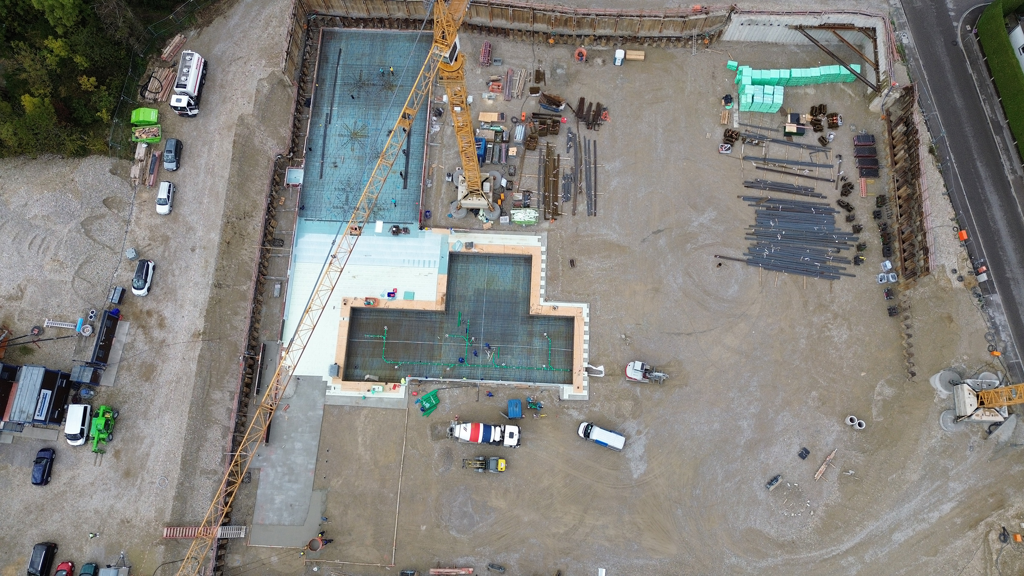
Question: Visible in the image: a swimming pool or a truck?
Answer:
truck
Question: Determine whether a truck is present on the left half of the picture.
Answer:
Yes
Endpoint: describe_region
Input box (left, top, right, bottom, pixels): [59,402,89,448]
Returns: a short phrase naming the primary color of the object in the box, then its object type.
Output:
white van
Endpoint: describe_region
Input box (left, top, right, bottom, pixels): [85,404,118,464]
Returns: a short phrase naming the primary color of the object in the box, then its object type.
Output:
green work vehicle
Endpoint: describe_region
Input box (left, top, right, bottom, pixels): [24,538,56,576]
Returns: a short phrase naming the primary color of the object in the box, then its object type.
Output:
black van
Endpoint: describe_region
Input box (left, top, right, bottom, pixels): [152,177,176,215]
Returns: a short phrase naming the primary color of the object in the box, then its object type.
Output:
white car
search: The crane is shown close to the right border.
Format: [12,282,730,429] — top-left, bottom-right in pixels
[952,379,1024,423]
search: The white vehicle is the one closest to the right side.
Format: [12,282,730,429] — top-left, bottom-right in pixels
[625,361,678,388]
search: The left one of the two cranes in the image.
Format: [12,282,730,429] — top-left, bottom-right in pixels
[174,0,494,576]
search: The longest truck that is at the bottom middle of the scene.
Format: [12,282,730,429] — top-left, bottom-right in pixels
[445,423,528,451]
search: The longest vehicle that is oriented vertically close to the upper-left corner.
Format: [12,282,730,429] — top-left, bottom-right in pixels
[162,40,203,115]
